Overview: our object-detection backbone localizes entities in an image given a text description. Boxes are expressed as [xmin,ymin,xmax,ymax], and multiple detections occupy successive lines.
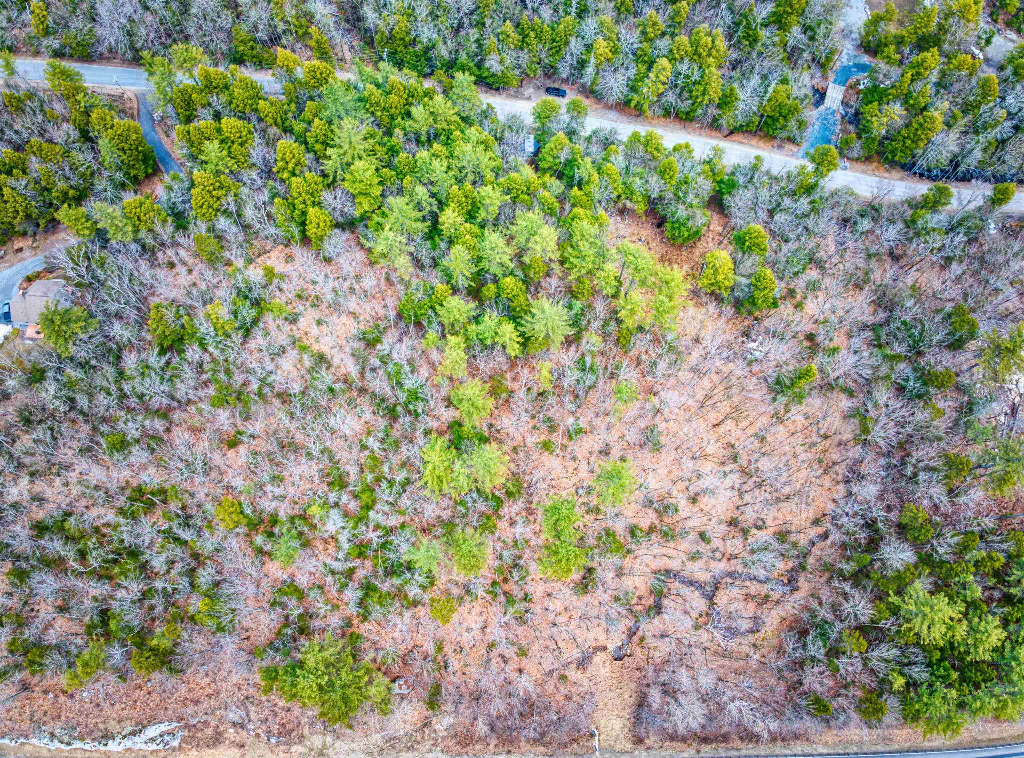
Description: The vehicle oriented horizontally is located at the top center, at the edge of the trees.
[544,85,568,99]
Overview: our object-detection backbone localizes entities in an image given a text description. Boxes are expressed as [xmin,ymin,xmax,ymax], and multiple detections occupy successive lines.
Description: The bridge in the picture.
[811,78,846,117]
